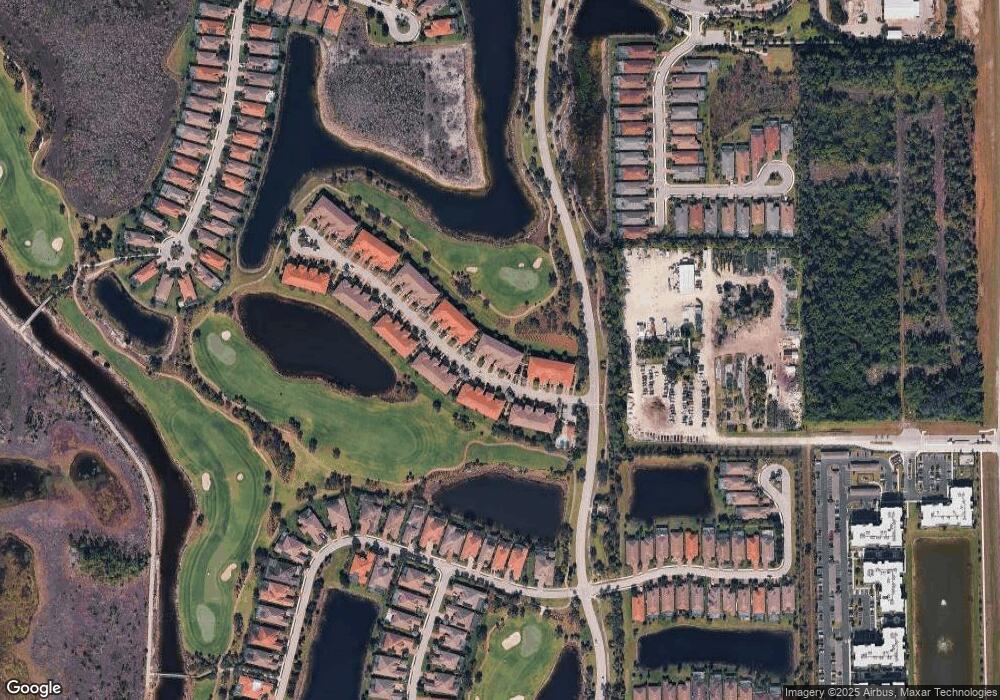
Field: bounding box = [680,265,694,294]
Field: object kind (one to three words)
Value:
building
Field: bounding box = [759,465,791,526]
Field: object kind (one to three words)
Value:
roundabout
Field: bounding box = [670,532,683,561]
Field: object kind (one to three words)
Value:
house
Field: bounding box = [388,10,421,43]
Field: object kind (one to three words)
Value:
roundabout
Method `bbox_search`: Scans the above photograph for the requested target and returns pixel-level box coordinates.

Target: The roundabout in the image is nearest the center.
[290,226,356,272]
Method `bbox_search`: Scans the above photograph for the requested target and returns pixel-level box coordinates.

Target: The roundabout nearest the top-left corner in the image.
[160,234,192,268]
